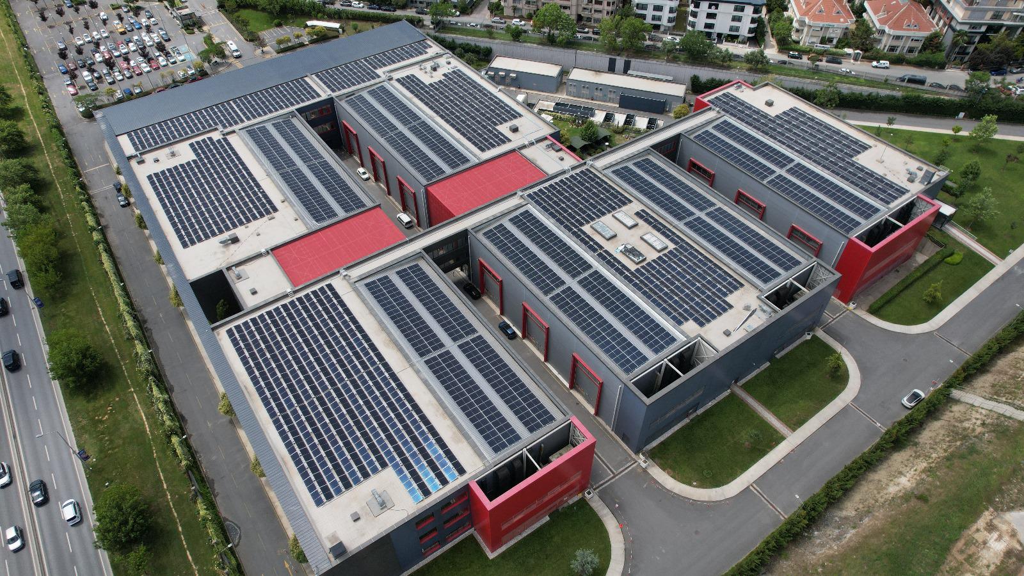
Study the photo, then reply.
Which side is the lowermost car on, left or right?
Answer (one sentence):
The lowermost car appears in the left half of the scene.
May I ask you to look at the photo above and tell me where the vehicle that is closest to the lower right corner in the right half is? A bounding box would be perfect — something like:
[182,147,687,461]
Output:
[899,388,926,410]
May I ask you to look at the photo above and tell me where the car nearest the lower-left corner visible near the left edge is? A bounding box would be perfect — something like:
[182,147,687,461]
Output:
[5,523,26,555]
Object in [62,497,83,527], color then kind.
white car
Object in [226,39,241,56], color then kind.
white vehicle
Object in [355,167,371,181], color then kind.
white car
